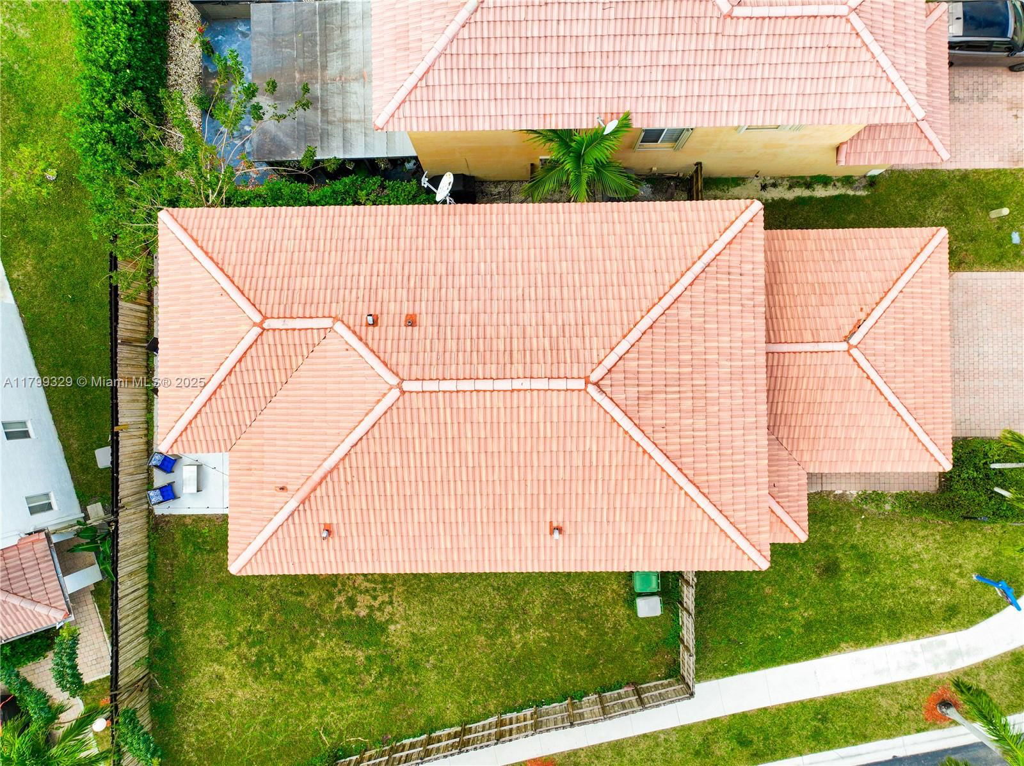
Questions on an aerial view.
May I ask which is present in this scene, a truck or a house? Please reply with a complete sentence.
The one in the frame is a house.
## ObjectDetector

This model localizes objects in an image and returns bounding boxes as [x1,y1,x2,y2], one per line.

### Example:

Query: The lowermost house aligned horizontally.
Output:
[146,194,958,580]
